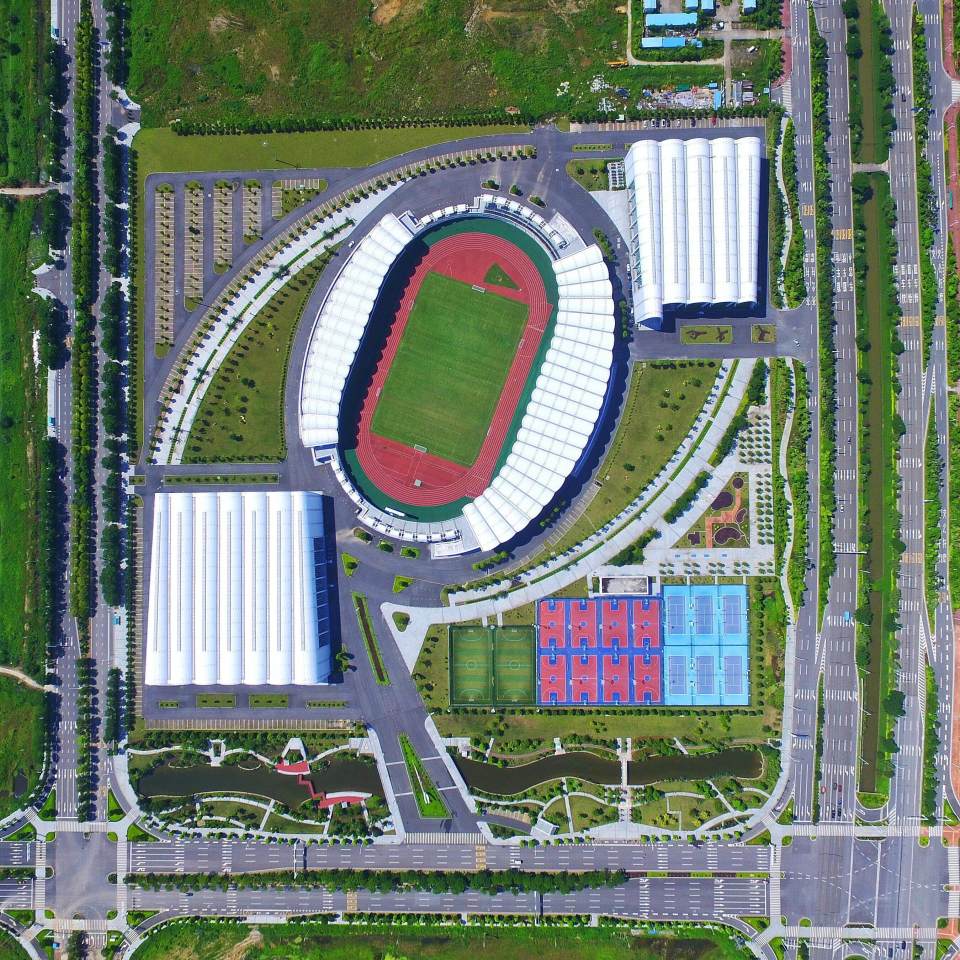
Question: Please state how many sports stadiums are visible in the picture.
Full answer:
Just 1 sports stadium appears in this view.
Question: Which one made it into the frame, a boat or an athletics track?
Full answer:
Visible in the photo is an athletics track.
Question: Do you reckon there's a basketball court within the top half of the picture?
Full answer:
No, there's no basketball court to be seen within the top half of the picture.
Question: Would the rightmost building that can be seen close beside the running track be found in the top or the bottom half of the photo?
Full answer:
Seen from above, the rightmost building that can be seen close beside the running track lies in the top half of the view.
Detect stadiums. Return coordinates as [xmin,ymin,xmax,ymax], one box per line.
[294,190,618,558]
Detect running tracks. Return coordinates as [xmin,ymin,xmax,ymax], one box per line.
[352,231,556,507]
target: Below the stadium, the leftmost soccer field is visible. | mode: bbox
[450,626,493,706]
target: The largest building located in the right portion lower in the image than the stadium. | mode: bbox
[601,576,649,594]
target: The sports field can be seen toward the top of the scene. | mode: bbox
[372,270,529,467]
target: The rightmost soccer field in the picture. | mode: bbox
[493,626,536,706]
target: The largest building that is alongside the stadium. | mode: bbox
[144,492,334,684]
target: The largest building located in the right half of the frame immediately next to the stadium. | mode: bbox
[623,142,762,332]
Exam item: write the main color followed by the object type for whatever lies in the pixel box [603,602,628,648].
red basketball court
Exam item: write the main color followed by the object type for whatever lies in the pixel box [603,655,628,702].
red basketball court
